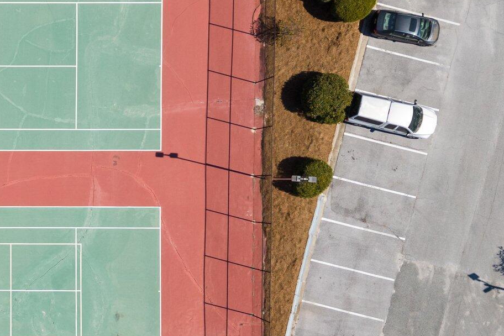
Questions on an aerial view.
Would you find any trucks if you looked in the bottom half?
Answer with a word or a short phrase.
No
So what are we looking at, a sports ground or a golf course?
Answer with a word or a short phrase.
sports ground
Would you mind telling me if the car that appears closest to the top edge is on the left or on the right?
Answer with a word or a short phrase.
right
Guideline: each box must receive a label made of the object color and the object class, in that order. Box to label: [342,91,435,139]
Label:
white truck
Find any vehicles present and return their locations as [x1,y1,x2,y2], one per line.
[368,8,440,48]
[342,91,435,139]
